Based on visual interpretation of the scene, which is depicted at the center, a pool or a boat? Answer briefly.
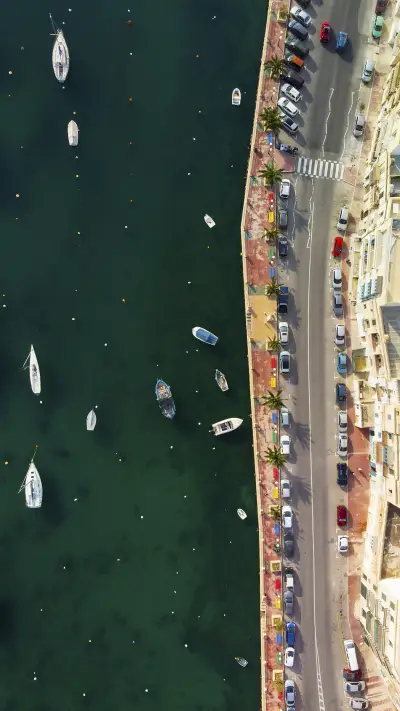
boat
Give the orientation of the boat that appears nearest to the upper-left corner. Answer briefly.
up and down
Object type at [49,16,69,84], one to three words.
boat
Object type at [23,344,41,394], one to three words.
boat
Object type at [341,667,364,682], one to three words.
car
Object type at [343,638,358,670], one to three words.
vehicle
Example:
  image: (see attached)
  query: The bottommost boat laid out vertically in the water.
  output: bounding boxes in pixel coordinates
[17,447,41,509]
